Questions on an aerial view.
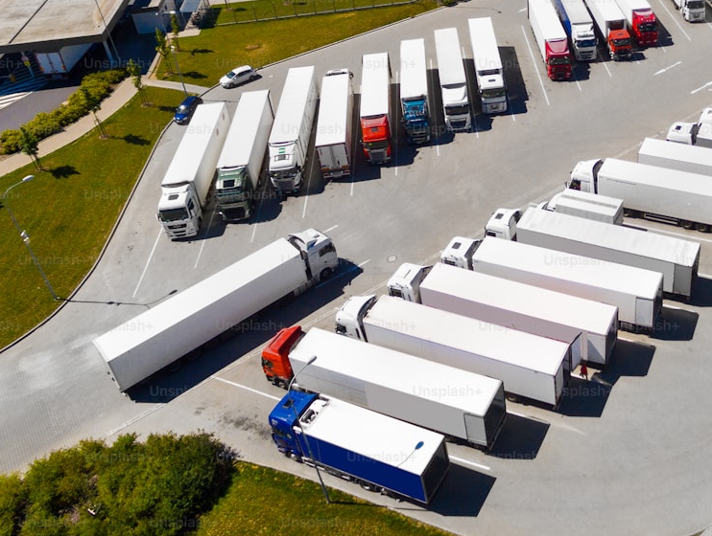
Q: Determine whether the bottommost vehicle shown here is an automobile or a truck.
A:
truck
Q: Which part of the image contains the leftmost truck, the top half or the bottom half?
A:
top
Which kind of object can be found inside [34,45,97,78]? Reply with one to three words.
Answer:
truck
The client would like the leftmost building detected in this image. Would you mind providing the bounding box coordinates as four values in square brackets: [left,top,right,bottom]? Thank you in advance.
[132,0,177,34]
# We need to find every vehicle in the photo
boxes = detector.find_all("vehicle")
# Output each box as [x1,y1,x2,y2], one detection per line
[434,27,474,130]
[541,188,623,226]
[154,101,233,239]
[34,45,97,78]
[316,67,355,178]
[265,67,319,190]
[360,52,396,165]
[566,158,712,231]
[583,0,636,60]
[469,17,508,115]
[211,89,277,221]
[670,0,710,24]
[528,0,576,80]
[553,0,600,63]
[387,263,618,369]
[171,93,204,119]
[485,207,701,300]
[330,293,571,407]
[93,229,341,396]
[220,61,259,84]
[442,236,663,334]
[259,392,451,509]
[400,38,434,144]
[615,0,661,47]
[258,326,506,449]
